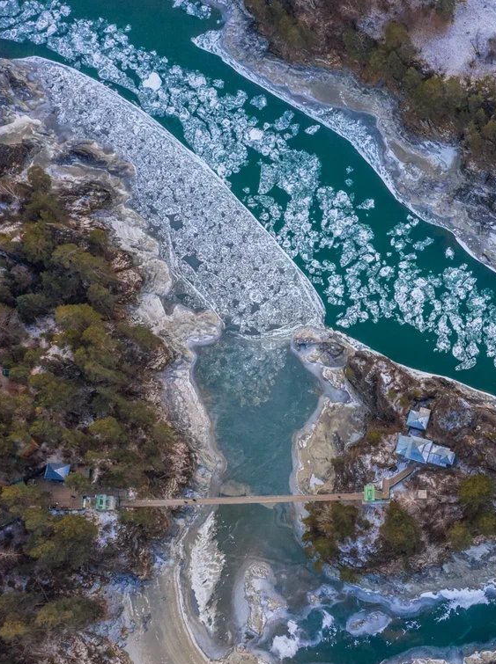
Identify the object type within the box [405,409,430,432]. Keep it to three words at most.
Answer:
house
